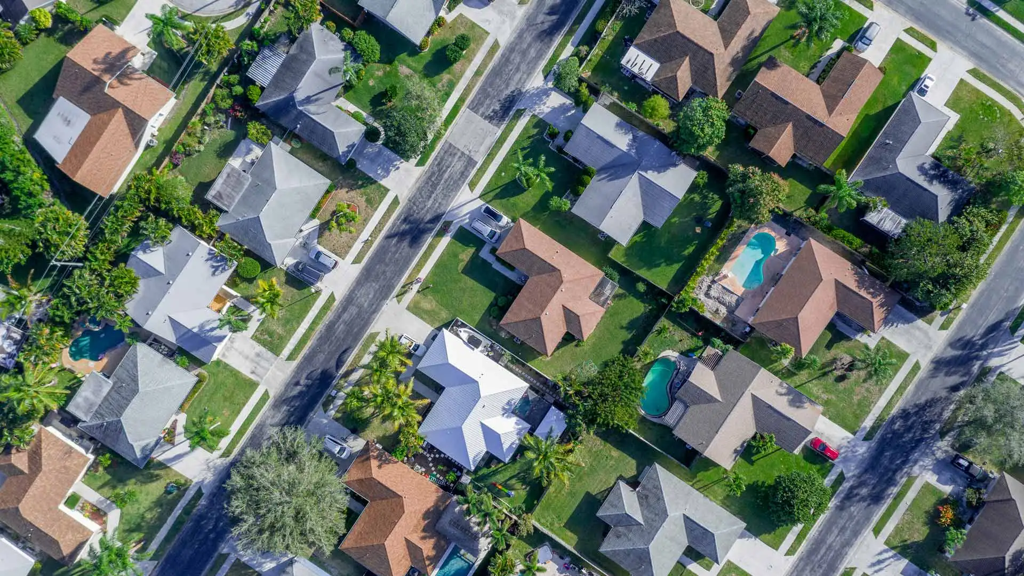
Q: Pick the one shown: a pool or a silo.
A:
pool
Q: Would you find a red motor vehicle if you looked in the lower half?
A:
Yes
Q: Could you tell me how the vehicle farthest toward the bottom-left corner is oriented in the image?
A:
on a diagonal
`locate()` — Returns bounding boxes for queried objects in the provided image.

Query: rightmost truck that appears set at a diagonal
[950,452,990,484]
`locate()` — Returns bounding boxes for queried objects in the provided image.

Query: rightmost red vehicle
[808,435,841,461]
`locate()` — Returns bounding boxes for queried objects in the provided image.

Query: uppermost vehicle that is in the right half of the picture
[855,19,882,54]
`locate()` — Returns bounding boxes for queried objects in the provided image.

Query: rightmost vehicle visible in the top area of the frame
[913,73,937,99]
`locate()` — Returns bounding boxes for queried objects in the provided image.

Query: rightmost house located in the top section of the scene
[848,91,976,228]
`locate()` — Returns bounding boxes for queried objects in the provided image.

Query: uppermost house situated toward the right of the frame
[632,0,781,102]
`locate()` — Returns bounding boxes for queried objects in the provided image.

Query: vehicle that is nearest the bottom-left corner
[321,432,353,460]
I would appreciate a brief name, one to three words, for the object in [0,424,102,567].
house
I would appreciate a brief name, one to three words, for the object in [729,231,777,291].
swimming pool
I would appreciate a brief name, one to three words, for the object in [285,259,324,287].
truck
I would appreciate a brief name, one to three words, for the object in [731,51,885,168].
house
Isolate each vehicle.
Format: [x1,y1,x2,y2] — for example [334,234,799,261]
[913,73,937,99]
[480,202,511,230]
[808,435,841,461]
[321,432,353,460]
[950,452,990,484]
[469,217,501,244]
[285,259,324,287]
[855,19,882,54]
[396,331,429,359]
[308,245,340,270]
